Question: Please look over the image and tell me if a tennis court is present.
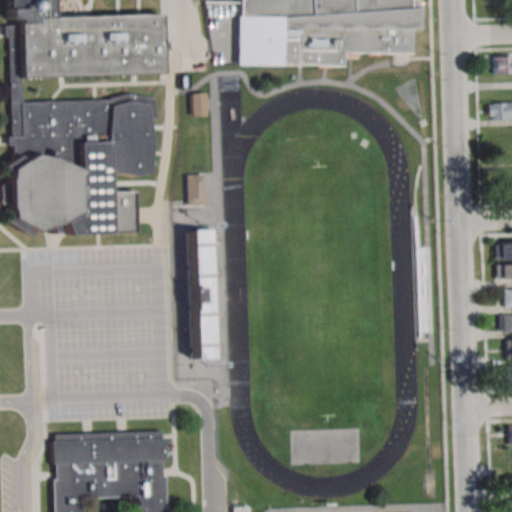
No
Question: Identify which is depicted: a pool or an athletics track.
athletics track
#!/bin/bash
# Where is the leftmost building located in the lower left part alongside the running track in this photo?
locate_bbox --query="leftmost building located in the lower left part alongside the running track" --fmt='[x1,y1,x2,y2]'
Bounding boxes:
[48,431,174,512]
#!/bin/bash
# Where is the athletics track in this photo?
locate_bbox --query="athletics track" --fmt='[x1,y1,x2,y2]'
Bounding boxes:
[220,76,416,498]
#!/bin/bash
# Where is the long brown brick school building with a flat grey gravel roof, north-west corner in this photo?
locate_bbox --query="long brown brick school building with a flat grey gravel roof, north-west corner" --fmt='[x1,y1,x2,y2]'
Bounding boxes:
[6,0,168,80]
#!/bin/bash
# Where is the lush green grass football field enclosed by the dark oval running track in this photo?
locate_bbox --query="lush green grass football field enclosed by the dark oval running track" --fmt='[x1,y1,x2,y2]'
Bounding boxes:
[244,106,396,477]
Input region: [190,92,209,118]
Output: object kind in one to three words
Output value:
shed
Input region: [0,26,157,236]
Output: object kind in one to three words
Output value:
building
